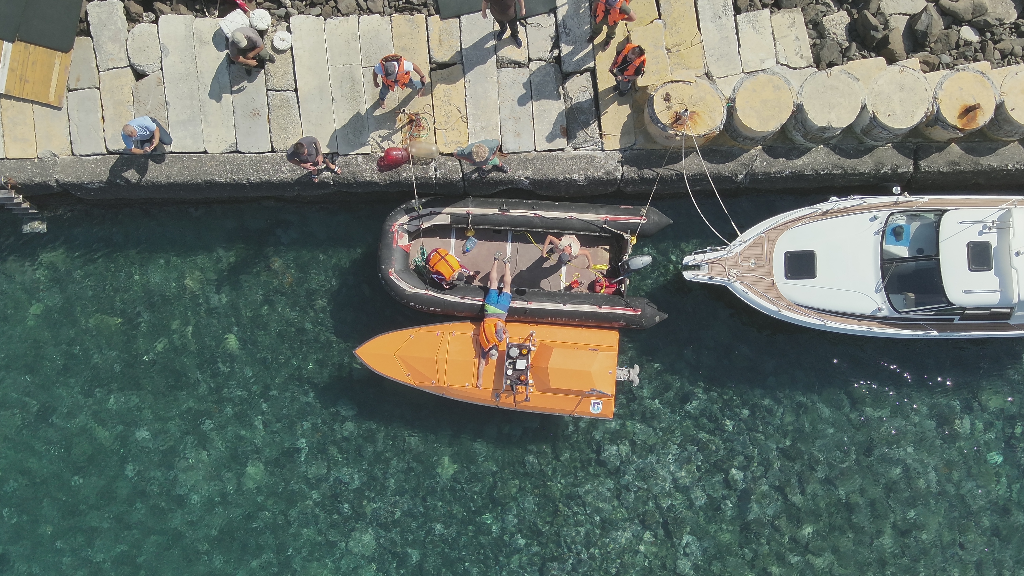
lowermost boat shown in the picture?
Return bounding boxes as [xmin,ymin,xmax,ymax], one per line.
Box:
[353,319,640,422]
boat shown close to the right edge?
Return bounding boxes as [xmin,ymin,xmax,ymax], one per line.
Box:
[683,194,1024,342]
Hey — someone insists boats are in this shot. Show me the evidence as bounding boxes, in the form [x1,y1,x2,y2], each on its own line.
[378,194,673,330]
[683,194,1024,342]
[353,319,640,422]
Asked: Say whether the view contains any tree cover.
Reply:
No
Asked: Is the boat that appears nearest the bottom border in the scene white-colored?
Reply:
No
